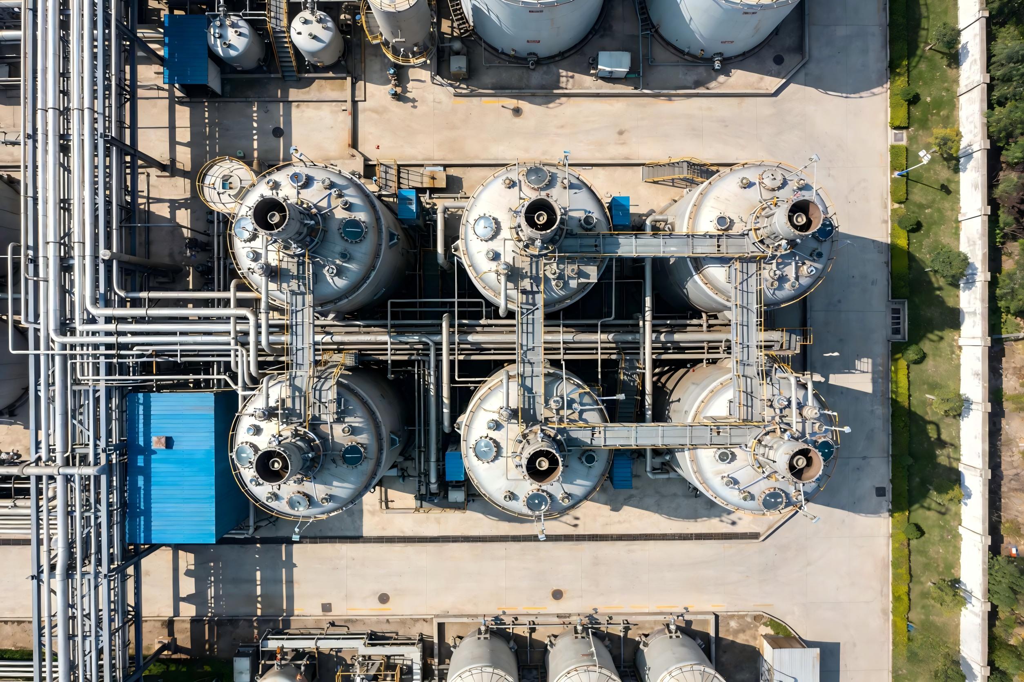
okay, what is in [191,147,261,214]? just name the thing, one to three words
silo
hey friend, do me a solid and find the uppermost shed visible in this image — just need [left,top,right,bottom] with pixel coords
[164,14,221,95]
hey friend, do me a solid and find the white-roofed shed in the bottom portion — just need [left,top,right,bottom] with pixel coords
[760,633,820,682]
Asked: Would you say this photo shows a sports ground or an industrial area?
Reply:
industrial area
